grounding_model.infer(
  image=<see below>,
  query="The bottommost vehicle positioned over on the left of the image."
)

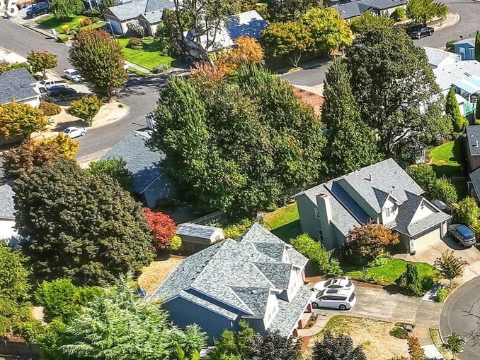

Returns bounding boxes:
[59,124,88,136]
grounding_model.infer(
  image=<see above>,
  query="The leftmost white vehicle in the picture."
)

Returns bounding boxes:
[34,77,65,91]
